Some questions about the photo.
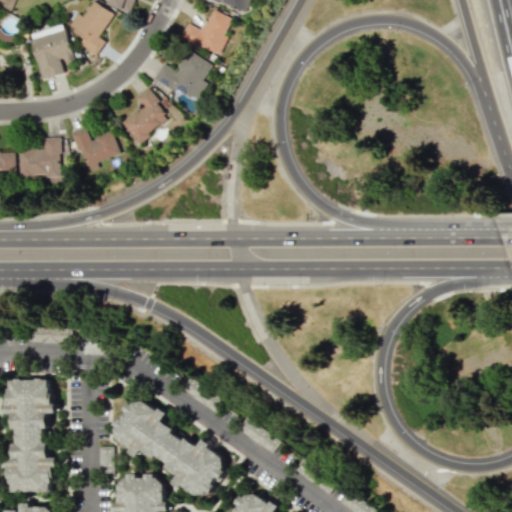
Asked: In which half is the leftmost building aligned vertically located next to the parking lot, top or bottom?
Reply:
bottom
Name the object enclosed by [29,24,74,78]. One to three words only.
house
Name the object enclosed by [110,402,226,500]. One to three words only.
building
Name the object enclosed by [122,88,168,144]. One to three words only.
house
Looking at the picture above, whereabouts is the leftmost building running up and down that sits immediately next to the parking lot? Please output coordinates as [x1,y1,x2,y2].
[1,380,54,493]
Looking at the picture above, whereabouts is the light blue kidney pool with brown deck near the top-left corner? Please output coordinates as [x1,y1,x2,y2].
[1,14,20,34]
